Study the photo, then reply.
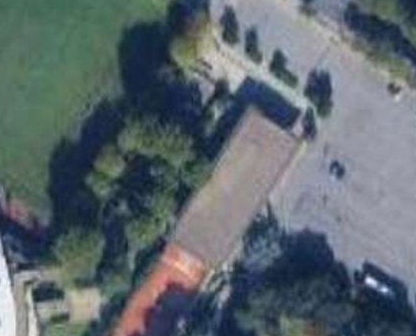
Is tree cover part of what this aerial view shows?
Yes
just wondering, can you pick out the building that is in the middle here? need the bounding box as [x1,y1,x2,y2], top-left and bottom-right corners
[171,106,302,270]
